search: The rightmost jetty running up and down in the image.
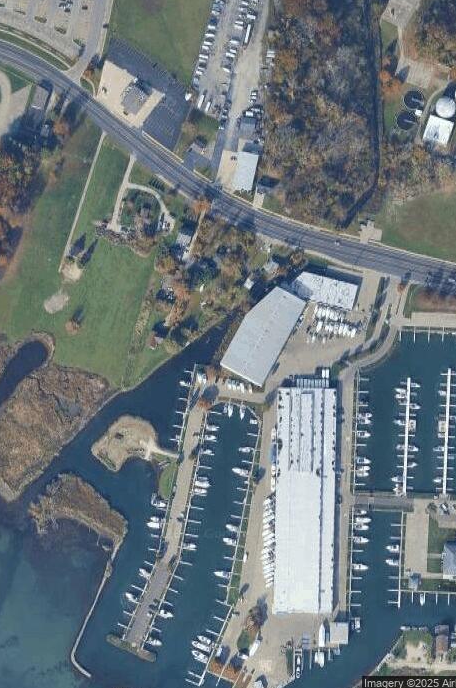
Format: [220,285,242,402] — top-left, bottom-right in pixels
[436,368,456,495]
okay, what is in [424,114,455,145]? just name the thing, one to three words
building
